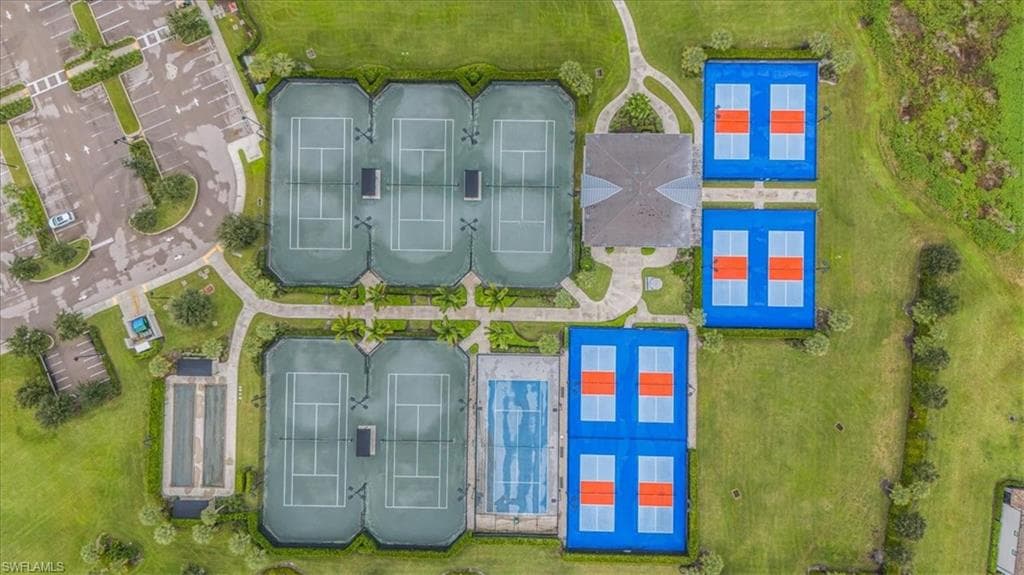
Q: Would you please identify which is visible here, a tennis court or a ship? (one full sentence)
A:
Of the two, only a tennis court appears.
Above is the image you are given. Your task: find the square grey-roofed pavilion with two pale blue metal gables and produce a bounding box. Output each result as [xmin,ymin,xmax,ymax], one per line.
[580,133,701,247]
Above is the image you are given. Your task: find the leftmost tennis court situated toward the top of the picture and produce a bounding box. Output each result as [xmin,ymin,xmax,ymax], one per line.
[269,83,372,283]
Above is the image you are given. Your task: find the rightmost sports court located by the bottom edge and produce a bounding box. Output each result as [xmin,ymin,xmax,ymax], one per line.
[627,439,687,553]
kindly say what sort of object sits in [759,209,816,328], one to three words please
sports court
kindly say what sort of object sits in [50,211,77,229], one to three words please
car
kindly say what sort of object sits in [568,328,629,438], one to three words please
sports court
